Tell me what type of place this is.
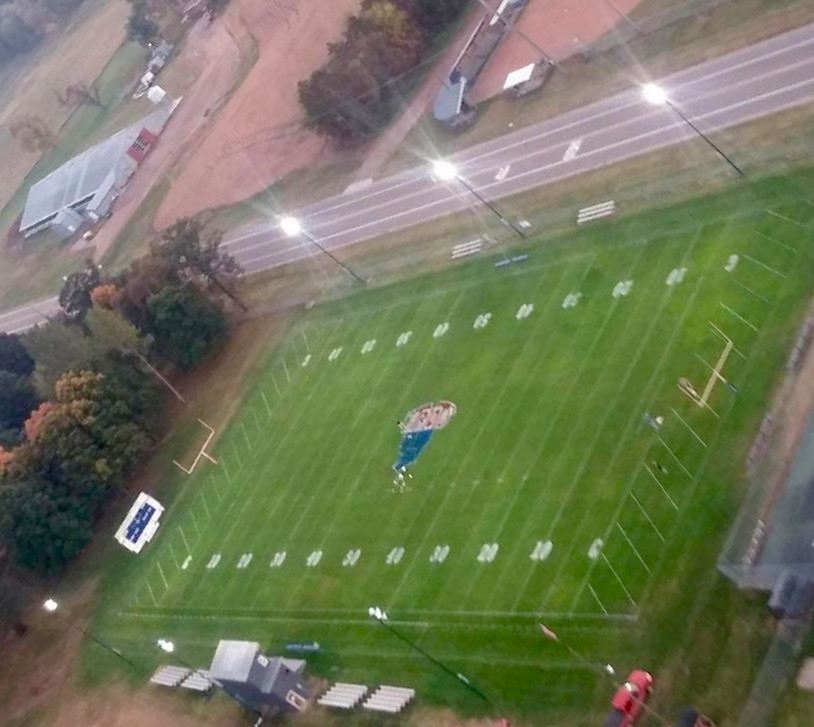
sports ground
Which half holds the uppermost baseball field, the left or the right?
right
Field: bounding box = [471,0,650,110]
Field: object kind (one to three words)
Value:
baseball field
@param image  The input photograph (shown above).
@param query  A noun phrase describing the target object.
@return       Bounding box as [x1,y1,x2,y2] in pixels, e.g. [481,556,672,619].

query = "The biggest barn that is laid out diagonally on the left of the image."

[14,104,172,246]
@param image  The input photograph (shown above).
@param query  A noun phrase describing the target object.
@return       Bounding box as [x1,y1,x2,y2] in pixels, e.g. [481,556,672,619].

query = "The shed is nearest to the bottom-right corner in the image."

[764,572,814,617]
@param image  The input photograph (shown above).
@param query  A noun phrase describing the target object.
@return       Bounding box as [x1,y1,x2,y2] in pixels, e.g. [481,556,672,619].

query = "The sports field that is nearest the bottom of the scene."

[84,141,814,716]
